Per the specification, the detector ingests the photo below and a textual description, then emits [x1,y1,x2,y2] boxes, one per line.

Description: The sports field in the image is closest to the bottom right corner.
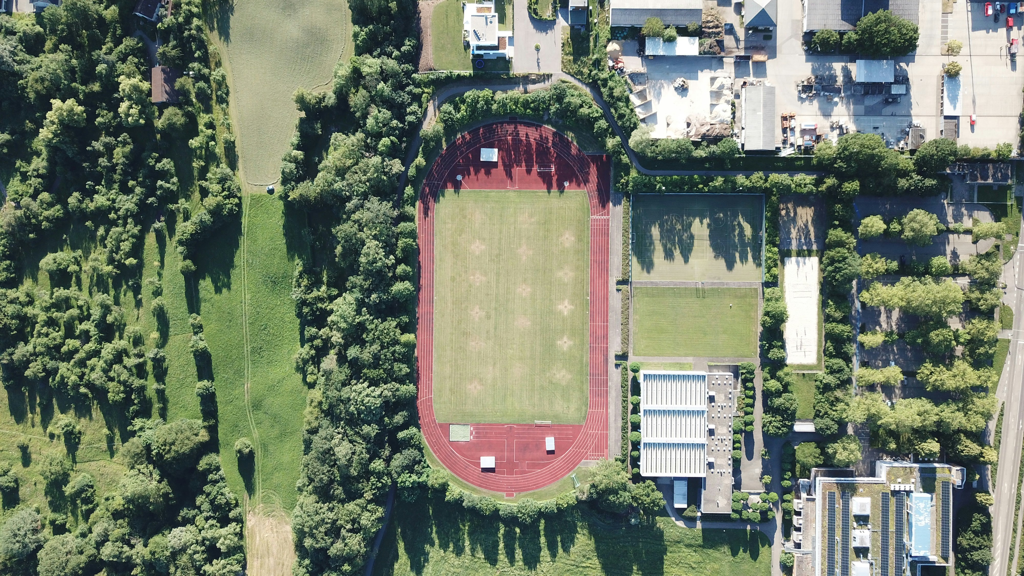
[633,287,758,357]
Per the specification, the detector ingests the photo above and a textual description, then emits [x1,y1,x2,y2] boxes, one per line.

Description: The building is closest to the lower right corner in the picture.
[785,452,966,576]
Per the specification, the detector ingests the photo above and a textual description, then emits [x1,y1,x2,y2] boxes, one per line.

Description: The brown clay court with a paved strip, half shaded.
[779,197,824,249]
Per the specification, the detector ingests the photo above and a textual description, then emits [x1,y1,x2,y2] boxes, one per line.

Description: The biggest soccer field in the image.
[433,189,591,424]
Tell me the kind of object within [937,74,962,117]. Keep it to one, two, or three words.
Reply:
shed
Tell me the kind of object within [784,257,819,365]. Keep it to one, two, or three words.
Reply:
sports court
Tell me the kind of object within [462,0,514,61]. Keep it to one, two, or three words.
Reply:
house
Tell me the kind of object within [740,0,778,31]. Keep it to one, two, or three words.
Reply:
building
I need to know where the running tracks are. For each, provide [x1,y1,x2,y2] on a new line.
[416,119,611,498]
